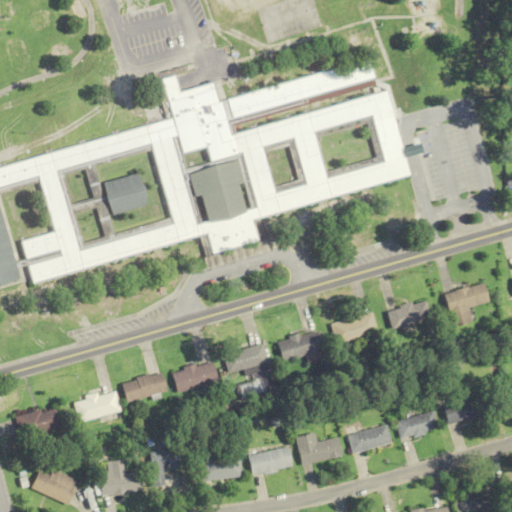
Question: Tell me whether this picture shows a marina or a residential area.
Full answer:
What you see here is a residential area.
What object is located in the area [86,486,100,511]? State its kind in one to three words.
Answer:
camper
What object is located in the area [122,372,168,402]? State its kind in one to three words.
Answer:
house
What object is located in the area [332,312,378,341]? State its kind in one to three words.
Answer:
house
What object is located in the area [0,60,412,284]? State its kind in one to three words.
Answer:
building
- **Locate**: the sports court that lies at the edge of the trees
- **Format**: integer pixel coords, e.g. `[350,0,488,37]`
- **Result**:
[258,0,322,44]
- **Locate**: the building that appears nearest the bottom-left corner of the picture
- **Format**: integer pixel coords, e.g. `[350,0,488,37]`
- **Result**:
[32,470,76,504]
